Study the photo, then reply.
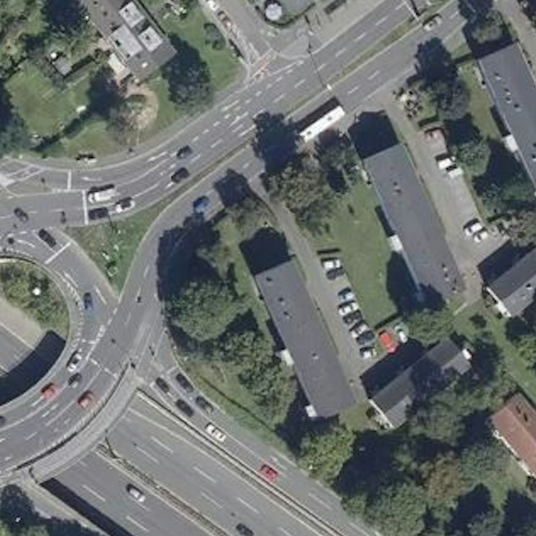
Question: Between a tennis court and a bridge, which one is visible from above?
bridge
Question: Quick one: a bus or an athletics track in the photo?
bus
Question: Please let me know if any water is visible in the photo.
No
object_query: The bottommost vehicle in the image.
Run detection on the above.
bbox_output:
[235,523,255,536]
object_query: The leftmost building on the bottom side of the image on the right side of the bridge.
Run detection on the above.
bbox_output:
[251,259,358,421]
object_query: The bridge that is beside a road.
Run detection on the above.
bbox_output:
[1,328,141,499]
